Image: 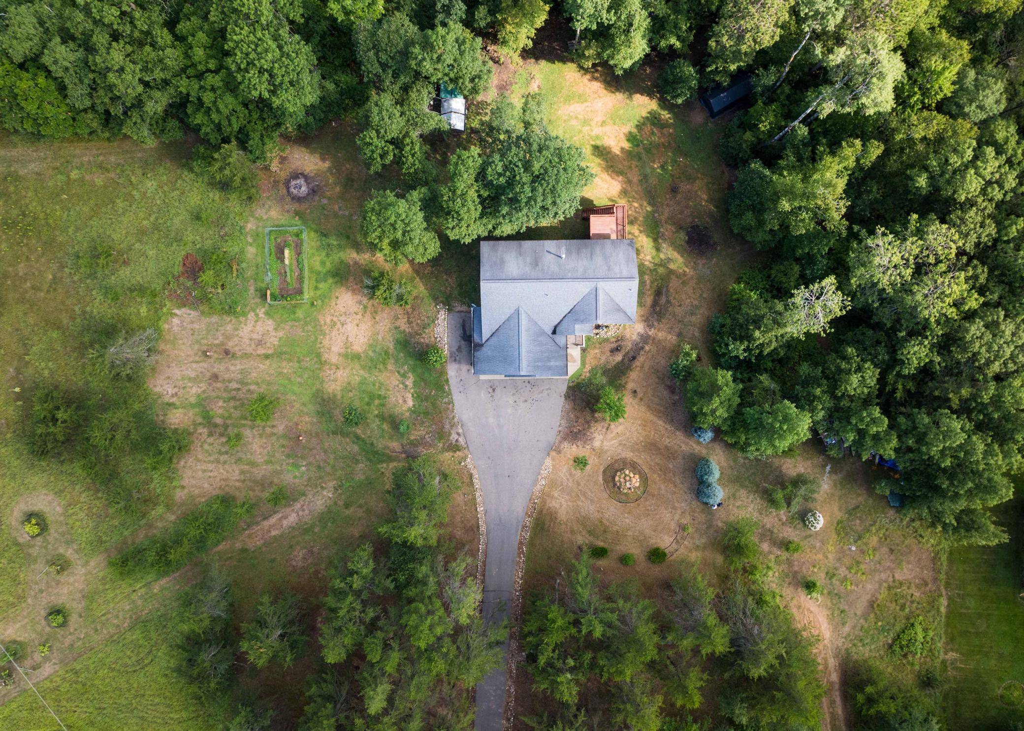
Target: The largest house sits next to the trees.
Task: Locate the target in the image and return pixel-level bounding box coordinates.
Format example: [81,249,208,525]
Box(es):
[471,239,639,378]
